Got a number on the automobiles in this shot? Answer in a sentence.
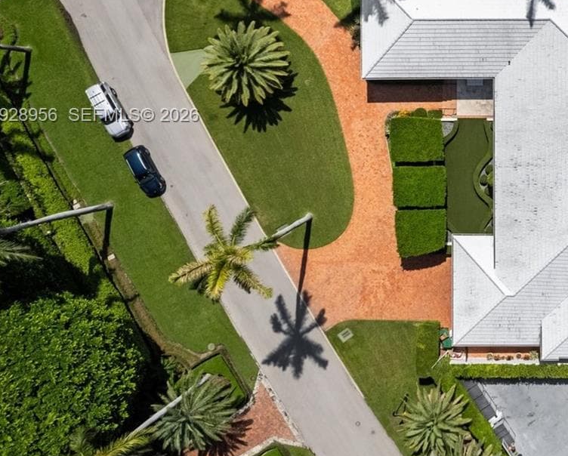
Altogether the scene contains 2 automobiles.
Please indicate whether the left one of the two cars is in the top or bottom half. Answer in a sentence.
Seen from above, the left one of the two cars lies in the top half of the view.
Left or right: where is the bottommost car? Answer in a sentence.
You can find the bottommost car on the left side of the picture.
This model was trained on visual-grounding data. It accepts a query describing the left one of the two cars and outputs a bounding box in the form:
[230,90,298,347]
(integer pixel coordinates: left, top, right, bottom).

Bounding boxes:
[79,79,130,138]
